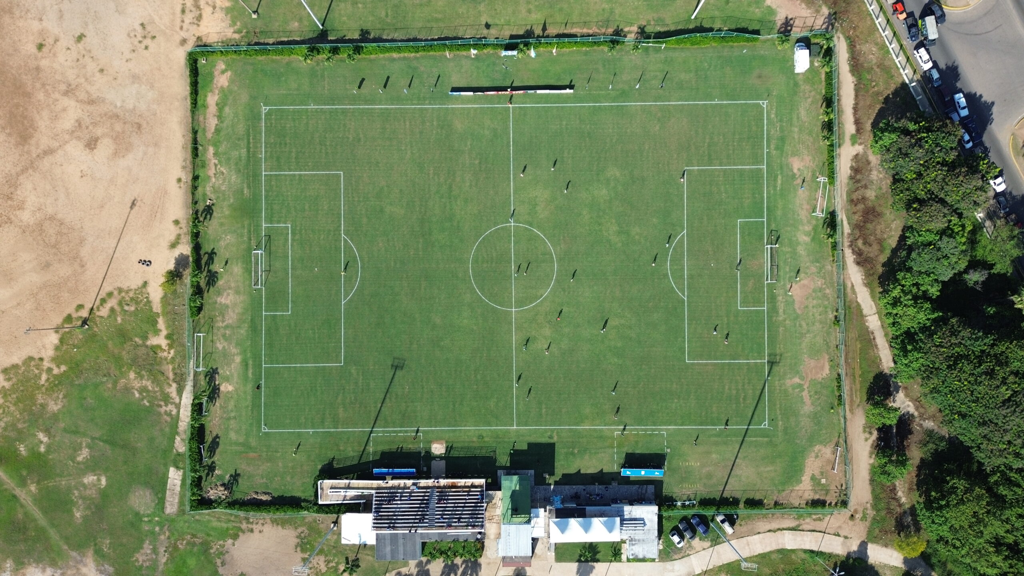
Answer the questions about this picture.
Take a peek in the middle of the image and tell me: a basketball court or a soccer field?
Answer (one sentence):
The one visible in the middle of the image is a soccer field.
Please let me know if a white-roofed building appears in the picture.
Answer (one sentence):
Yes, looking at the shot, I can spot a white-roofed building.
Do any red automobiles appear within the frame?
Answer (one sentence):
Yes, the image includes a red automobile.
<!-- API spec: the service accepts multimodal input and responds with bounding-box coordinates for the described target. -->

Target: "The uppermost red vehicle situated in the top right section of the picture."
[890,1,906,21]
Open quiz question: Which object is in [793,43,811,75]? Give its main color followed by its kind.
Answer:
white vehicle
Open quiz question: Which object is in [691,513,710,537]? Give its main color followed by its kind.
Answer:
blue car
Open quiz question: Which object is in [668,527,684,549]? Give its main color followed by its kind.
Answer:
white car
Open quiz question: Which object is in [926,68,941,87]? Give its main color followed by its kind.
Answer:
blue car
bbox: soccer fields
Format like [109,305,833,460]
[258,98,772,468]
